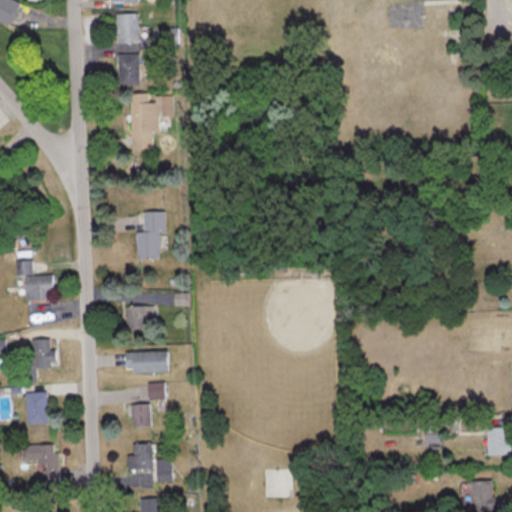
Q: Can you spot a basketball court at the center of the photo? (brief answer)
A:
No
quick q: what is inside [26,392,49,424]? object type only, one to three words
house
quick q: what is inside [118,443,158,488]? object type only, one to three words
house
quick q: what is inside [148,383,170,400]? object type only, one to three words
building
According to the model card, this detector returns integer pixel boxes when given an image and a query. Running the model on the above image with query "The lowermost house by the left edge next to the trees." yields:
[20,445,65,474]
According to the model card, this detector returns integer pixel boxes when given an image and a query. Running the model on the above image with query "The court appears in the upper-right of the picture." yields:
[388,2,424,28]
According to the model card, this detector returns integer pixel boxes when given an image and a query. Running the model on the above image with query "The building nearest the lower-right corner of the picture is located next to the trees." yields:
[462,480,495,512]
